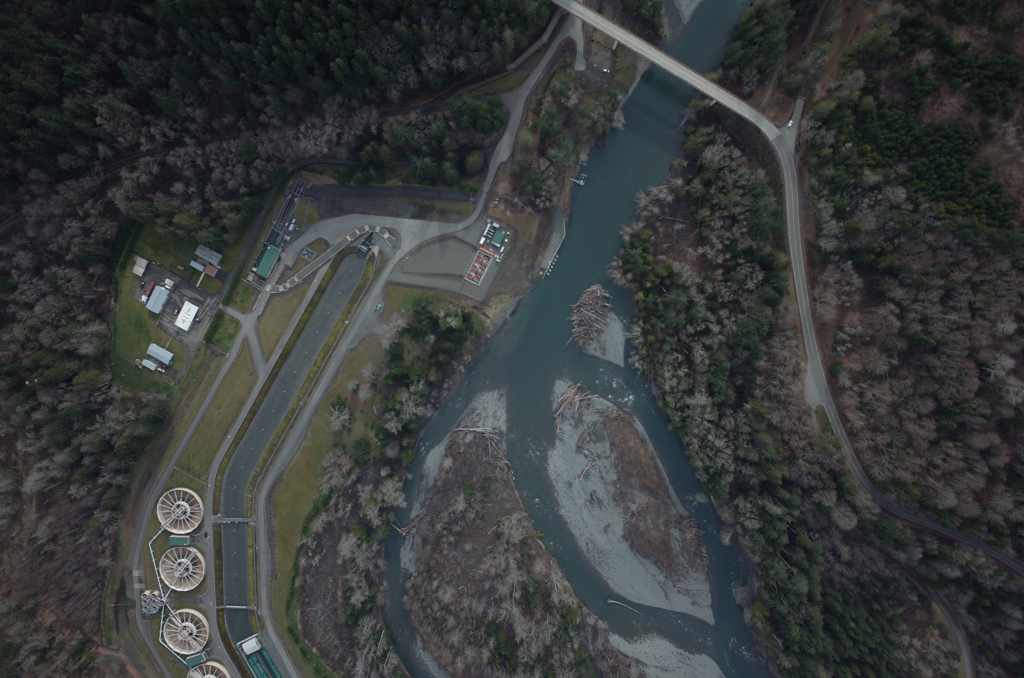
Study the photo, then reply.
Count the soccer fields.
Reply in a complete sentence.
The count of soccer fields is 0.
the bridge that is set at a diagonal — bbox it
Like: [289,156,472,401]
[550,0,759,123]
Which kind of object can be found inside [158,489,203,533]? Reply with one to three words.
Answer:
storage tank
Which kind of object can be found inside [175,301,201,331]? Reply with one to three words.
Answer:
building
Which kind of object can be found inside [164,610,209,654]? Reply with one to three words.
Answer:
storage tank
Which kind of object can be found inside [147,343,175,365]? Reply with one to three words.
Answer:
house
